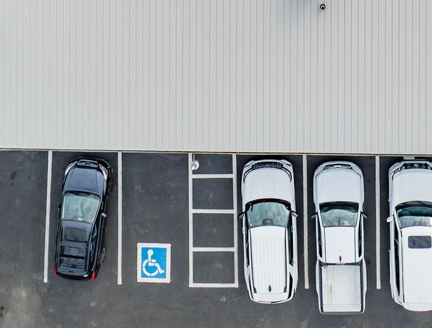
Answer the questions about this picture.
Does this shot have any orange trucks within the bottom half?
No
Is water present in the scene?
No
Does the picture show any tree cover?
No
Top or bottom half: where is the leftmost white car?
bottom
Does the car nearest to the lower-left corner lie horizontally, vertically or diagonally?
vertically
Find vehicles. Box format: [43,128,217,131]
[49,156,113,281]
[308,160,371,319]
[235,160,302,305]
[385,158,432,308]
